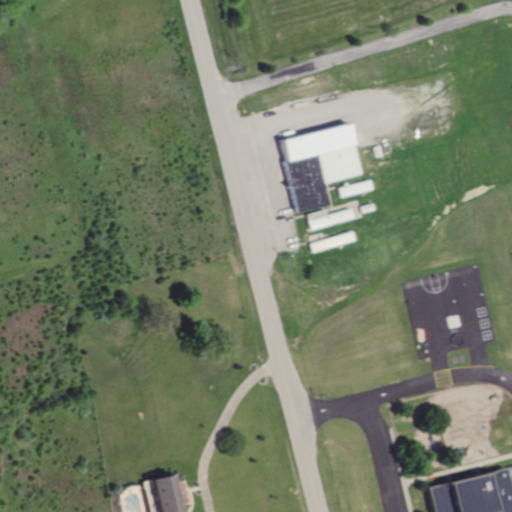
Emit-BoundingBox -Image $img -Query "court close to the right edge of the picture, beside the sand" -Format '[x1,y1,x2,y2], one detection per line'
[403,266,494,372]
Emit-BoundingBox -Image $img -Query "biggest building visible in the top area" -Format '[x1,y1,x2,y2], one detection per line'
[280,123,364,214]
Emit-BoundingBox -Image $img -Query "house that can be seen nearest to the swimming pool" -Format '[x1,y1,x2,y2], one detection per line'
[155,475,185,512]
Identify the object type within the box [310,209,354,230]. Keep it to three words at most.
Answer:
house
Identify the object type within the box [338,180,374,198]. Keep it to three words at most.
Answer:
house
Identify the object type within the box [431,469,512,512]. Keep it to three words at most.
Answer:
building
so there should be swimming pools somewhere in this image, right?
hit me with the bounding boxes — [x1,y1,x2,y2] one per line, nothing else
[120,484,145,512]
